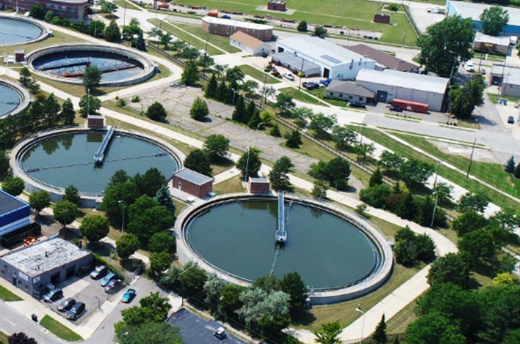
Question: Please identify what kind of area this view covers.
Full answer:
What you see here is an industrial area.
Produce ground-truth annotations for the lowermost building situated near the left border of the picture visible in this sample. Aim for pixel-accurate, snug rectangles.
[3,235,93,299]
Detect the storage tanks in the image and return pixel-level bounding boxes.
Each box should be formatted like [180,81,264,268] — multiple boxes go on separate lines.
[9,123,187,205]
[0,79,33,120]
[174,190,395,305]
[23,43,159,85]
[0,15,53,48]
